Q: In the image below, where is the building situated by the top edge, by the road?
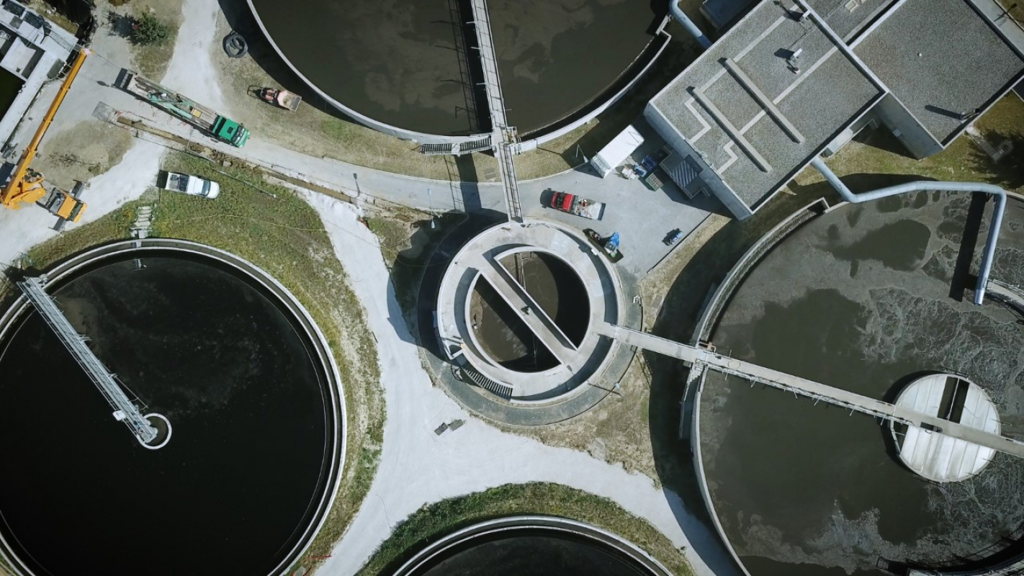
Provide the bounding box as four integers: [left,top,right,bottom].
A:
[642,0,1024,217]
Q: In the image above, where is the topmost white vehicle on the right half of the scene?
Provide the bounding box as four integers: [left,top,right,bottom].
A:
[590,120,646,178]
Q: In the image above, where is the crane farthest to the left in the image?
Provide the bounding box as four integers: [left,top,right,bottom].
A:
[0,48,126,236]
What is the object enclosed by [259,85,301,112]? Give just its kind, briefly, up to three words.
truck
